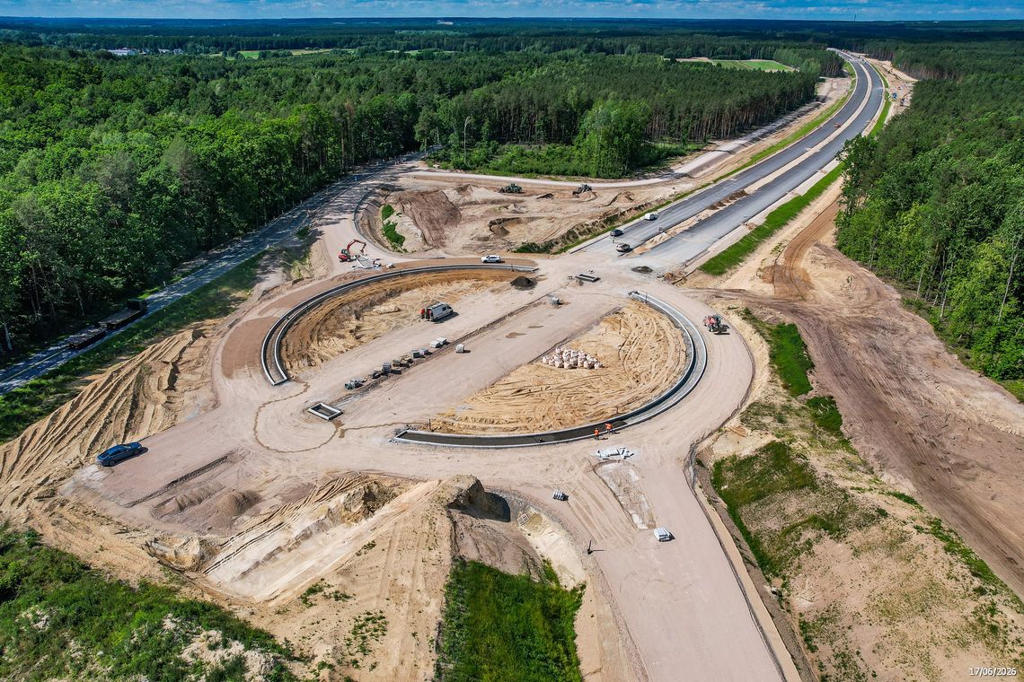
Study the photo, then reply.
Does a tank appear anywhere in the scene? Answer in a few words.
No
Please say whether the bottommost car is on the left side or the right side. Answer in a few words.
left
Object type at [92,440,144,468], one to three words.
car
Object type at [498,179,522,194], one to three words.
work vehicle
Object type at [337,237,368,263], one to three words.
work vehicle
